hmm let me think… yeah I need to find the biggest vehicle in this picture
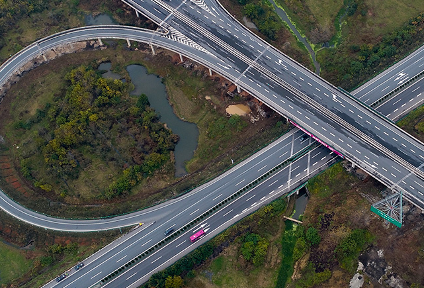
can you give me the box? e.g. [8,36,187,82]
[189,229,205,241]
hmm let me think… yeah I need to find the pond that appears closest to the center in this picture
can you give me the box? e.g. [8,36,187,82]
[128,63,198,176]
